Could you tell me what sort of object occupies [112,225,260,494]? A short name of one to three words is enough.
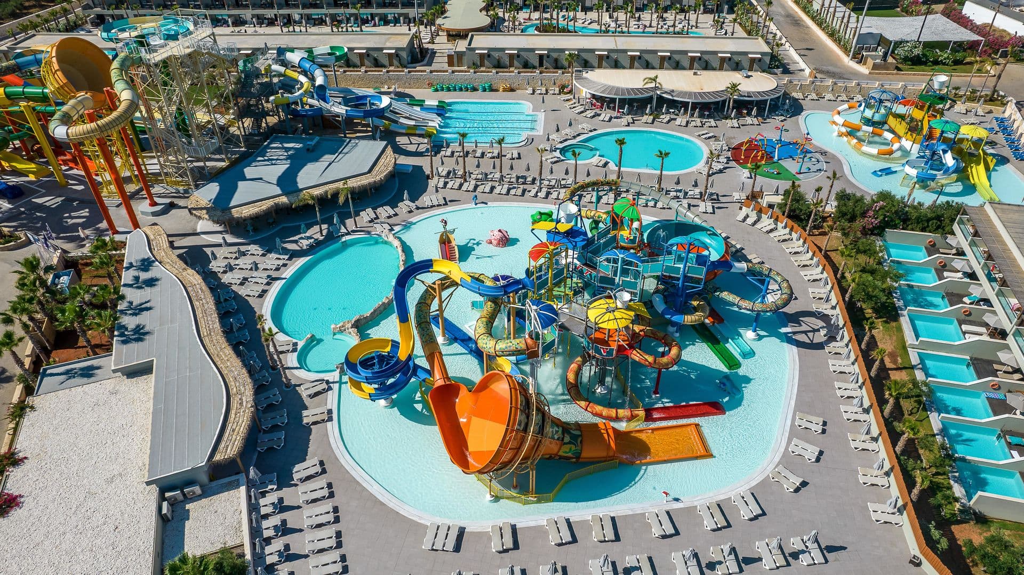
building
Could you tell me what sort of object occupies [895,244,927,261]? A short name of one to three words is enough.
swimming pool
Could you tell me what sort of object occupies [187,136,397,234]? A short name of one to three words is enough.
building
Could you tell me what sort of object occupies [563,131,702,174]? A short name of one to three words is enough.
swimming pool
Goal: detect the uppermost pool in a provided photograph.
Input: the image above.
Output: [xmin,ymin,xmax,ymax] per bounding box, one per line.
[524,23,703,36]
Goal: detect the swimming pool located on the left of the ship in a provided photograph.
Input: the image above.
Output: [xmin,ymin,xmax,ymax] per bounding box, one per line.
[270,235,393,374]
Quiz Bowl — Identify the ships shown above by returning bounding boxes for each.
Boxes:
[430,208,461,261]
